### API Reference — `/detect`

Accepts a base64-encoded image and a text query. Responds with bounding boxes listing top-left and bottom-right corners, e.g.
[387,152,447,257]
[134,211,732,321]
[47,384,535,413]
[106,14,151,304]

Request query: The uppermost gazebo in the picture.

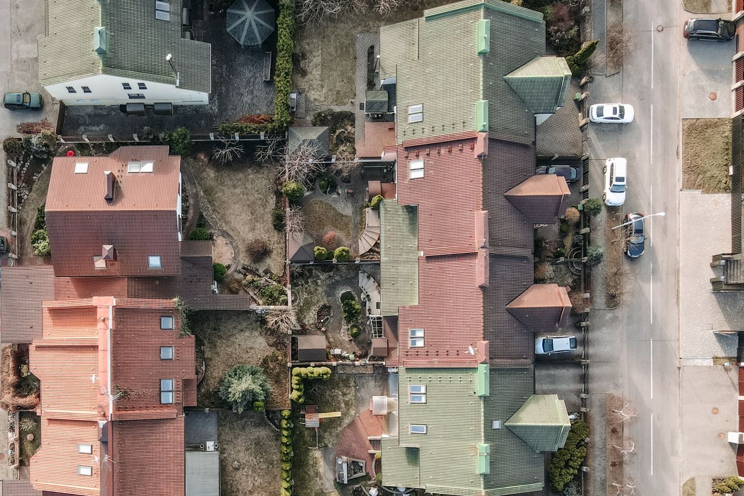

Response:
[226,0,275,50]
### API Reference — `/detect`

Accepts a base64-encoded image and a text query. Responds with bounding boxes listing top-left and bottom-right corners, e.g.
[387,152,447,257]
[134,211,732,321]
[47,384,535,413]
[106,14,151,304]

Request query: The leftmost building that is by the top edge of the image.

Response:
[39,0,211,106]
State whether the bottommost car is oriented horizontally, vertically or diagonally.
horizontally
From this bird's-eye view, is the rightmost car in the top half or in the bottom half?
top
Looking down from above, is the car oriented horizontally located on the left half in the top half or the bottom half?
top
